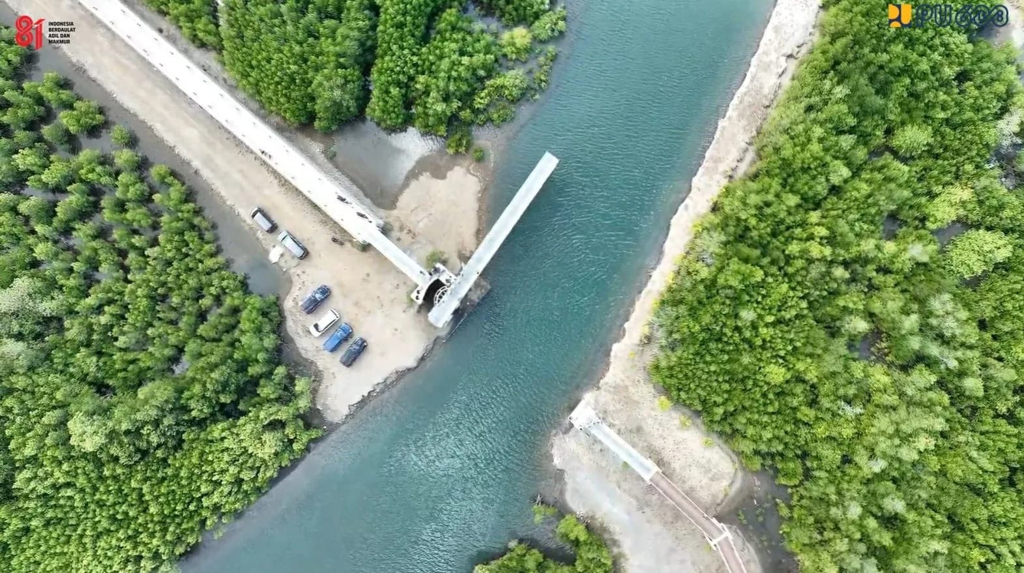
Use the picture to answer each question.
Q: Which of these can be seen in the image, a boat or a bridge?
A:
bridge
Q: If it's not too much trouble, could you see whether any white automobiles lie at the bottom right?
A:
No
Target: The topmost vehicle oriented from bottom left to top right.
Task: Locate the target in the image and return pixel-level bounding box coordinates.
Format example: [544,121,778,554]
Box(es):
[298,283,331,313]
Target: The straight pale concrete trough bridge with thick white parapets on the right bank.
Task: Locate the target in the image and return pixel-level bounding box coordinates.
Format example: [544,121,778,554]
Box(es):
[589,422,663,487]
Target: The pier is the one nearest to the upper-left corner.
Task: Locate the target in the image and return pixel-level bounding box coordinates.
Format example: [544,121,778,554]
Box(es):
[410,263,456,304]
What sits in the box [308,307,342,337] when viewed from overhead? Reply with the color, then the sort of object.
white car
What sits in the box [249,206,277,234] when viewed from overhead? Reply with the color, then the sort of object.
white van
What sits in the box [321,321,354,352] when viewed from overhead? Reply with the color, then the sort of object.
blue truck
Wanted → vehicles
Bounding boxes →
[249,206,277,234]
[355,212,367,219]
[277,229,310,260]
[338,336,369,367]
[331,238,343,245]
[321,321,354,352]
[298,283,331,313]
[257,149,270,157]
[308,307,342,337]
[337,193,348,202]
